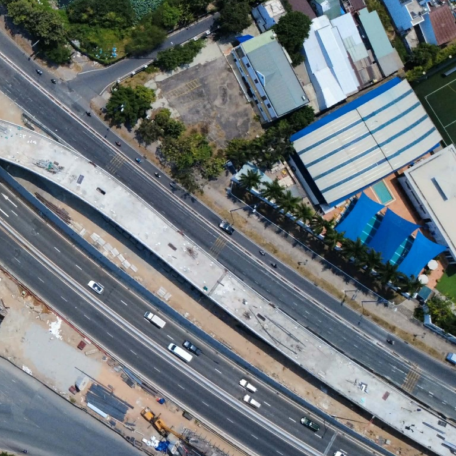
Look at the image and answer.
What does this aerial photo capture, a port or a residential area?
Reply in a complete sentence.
The picture captures a residential area.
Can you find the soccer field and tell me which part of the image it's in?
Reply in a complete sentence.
The soccer field is located in the top right region of the scene.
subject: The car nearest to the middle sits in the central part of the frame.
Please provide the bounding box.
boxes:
[217,220,233,234]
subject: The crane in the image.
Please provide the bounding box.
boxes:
[135,400,187,447]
